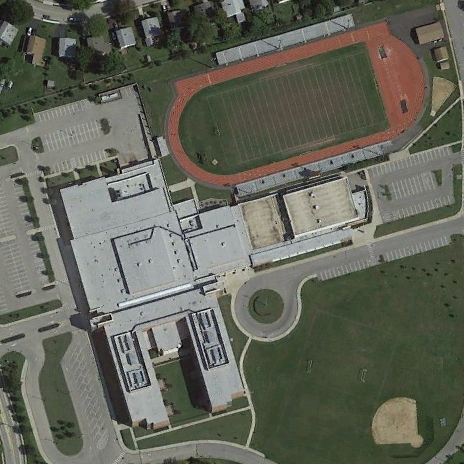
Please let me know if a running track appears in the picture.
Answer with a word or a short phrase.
Yes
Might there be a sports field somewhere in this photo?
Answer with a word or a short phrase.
Yes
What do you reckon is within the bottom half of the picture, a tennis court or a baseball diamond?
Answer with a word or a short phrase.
baseball diamond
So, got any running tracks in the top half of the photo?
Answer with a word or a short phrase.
Yes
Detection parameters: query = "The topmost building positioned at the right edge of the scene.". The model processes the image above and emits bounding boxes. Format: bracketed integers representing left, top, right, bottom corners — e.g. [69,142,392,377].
[415,25,444,44]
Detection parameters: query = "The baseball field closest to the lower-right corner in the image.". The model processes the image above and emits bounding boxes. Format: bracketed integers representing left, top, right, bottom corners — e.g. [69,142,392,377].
[372,397,424,448]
